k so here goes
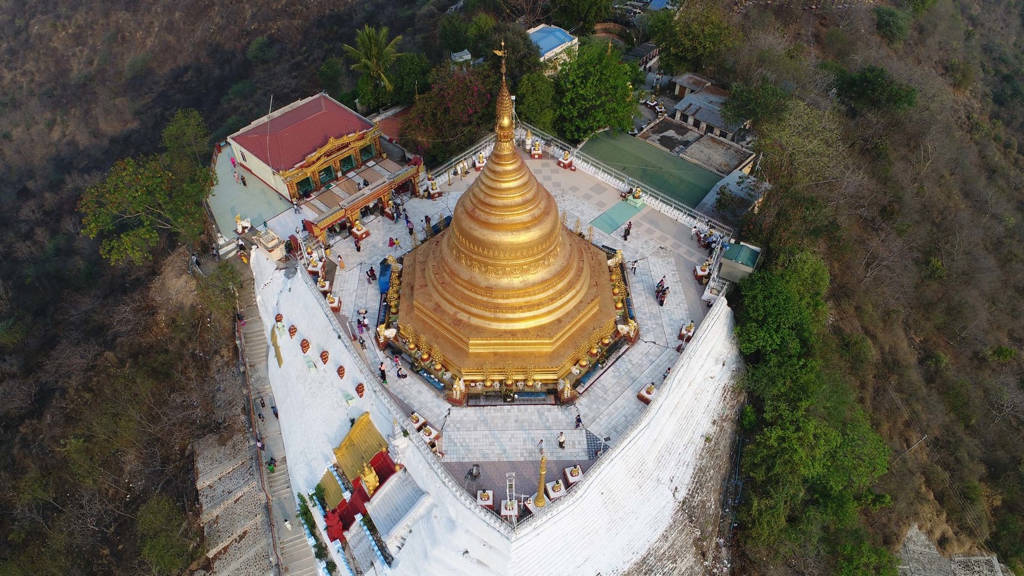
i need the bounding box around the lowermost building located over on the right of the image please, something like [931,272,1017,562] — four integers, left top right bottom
[719,233,766,325]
